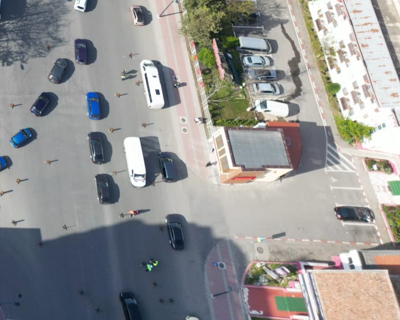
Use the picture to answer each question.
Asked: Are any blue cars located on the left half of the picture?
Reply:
Yes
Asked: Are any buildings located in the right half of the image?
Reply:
Yes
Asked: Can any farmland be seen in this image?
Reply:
No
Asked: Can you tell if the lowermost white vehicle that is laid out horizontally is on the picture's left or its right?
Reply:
right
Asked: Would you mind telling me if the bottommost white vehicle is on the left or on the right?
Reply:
left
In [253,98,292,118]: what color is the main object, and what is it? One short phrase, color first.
white vehicle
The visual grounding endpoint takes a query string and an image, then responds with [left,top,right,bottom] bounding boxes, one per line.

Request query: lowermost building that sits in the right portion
[285,269,400,320]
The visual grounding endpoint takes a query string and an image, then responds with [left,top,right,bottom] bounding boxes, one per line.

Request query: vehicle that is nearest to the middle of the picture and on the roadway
[157,151,177,183]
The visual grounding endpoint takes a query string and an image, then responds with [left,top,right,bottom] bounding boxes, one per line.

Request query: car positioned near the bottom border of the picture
[116,290,139,320]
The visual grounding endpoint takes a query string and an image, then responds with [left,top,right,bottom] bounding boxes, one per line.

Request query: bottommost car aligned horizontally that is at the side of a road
[334,206,375,224]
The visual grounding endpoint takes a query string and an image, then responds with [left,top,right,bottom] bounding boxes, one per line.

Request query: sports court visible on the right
[249,288,296,320]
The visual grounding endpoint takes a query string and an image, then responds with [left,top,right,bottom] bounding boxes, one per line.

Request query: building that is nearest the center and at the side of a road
[207,122,301,183]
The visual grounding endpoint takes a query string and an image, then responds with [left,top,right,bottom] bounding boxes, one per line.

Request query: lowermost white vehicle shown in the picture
[127,133,150,186]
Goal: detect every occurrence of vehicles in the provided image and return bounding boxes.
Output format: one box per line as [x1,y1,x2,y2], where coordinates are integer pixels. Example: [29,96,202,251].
[116,290,139,320]
[74,0,87,13]
[75,38,89,65]
[9,126,34,149]
[0,156,9,170]
[140,62,170,106]
[251,82,282,95]
[127,133,150,186]
[48,57,68,84]
[157,151,177,183]
[129,3,146,28]
[334,206,375,224]
[253,98,292,118]
[93,173,111,205]
[87,133,104,163]
[29,90,51,118]
[86,94,101,119]
[241,54,272,67]
[164,216,184,249]
[247,67,277,82]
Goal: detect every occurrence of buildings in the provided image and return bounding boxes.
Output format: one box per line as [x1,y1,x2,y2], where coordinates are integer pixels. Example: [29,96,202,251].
[308,0,400,157]
[207,122,301,183]
[285,269,400,320]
